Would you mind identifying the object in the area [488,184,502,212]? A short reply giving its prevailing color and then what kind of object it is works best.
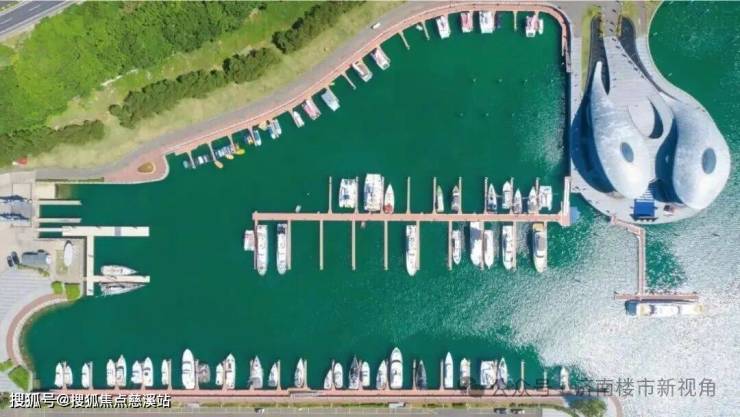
white boat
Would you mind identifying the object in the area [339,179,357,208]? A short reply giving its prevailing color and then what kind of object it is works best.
white boat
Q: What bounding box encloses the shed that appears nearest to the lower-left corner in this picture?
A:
[18,251,51,265]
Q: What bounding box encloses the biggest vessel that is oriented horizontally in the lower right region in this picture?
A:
[629,302,708,318]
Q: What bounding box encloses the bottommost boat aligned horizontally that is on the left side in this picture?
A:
[98,283,142,296]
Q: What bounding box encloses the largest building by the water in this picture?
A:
[572,36,731,208]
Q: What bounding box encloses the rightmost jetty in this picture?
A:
[605,212,698,300]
